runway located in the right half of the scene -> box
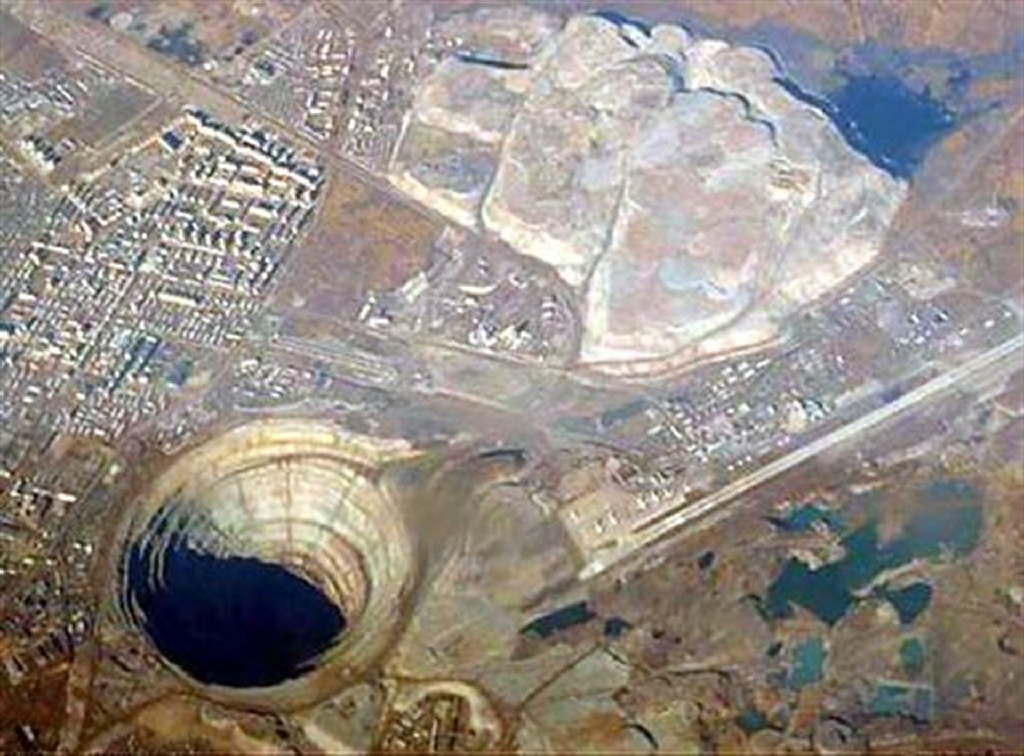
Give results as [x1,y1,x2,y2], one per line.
[576,334,1024,583]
